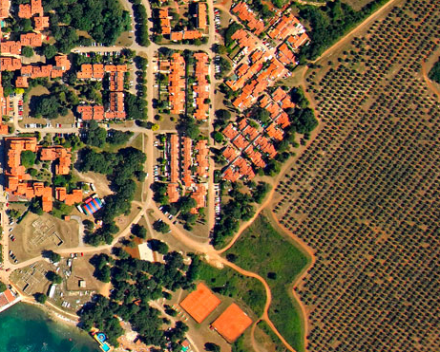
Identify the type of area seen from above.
residential area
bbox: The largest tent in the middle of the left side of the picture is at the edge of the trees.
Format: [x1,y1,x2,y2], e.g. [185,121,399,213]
[79,196,104,218]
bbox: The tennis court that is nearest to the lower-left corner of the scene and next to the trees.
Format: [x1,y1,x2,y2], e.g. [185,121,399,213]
[180,283,221,324]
